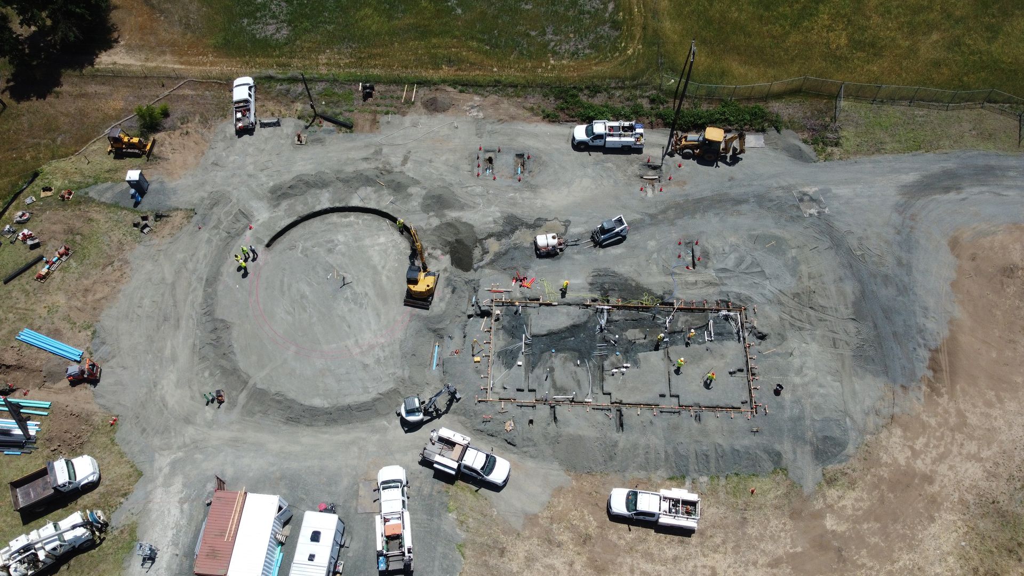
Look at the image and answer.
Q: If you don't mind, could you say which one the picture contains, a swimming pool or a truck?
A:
truck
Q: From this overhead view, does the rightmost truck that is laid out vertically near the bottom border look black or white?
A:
white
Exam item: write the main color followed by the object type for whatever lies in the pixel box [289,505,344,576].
white trailer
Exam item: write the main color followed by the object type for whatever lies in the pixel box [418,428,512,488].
white truck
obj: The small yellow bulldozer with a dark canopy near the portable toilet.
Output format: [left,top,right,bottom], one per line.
[104,128,153,161]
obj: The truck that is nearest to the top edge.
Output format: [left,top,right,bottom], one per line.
[229,78,258,132]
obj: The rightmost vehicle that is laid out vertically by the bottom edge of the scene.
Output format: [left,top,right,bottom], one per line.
[371,468,414,576]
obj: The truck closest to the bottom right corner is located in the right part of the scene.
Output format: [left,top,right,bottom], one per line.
[607,484,699,531]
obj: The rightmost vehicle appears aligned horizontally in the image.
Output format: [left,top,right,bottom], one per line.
[669,124,744,161]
